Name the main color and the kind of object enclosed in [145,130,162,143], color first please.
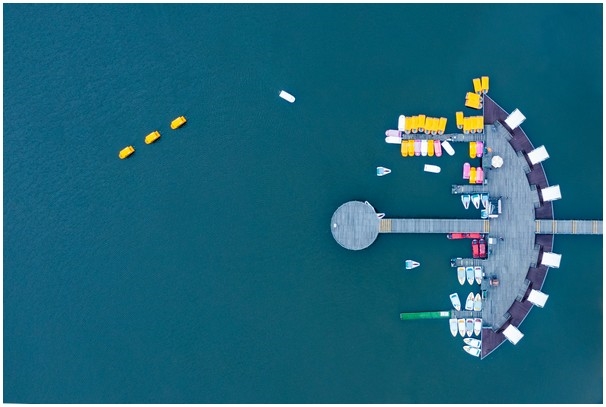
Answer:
yellow boat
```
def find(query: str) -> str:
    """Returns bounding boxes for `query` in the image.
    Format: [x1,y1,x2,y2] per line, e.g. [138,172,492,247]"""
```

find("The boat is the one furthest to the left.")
[119,145,136,158]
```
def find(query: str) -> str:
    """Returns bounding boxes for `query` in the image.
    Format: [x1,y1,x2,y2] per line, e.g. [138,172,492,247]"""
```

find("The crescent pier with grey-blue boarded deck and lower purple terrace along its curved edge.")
[481,93,554,360]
